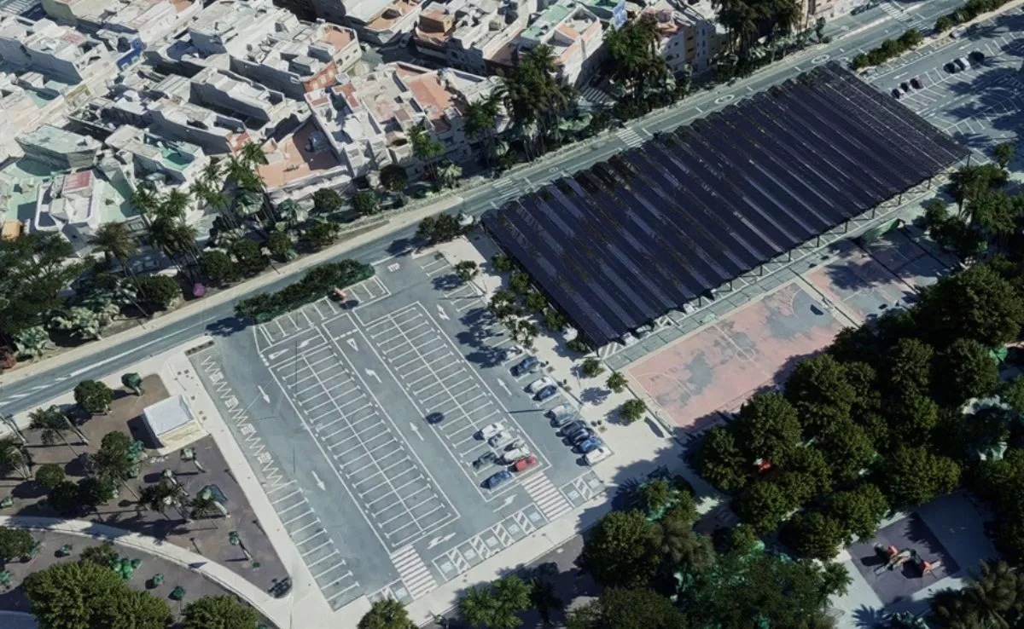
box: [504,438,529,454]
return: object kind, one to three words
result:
car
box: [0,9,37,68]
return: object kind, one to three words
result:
house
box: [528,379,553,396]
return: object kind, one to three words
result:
car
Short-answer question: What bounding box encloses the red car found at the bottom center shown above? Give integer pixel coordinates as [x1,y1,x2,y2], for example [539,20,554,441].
[512,457,539,475]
